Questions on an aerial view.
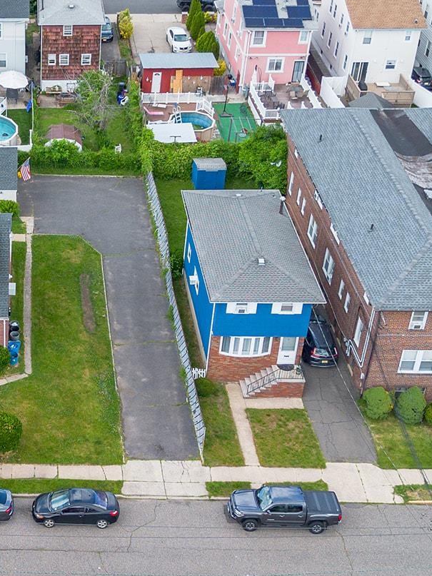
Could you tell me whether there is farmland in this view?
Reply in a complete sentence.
No, there is no farmland in the image.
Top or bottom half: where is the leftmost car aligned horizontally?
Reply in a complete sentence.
The leftmost car aligned horizontally is in the bottom half of the image.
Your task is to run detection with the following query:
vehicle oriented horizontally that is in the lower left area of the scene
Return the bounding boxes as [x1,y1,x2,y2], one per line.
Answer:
[32,484,122,525]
